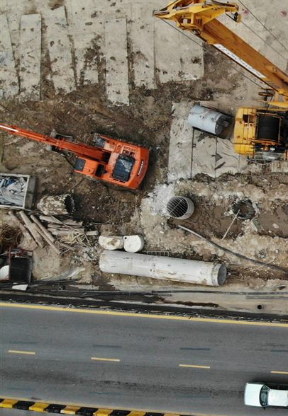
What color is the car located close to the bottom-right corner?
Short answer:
white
